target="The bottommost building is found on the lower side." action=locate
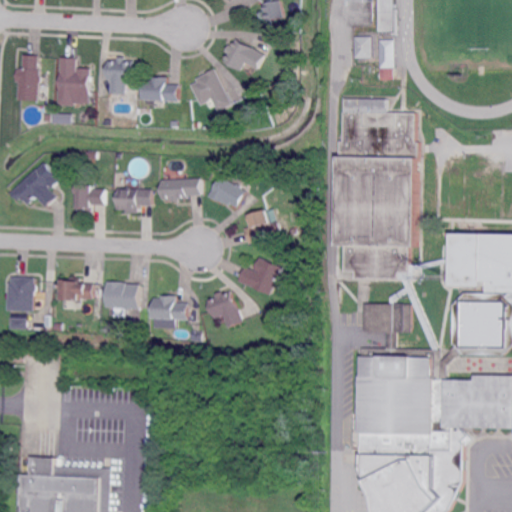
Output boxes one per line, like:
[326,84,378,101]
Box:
[18,457,106,512]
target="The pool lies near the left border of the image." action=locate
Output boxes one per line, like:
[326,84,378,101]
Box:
[23,106,42,125]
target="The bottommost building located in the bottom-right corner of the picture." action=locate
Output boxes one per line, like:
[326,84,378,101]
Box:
[358,356,512,512]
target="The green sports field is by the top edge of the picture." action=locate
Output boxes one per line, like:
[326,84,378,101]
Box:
[437,0,512,49]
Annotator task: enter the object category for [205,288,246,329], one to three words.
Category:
house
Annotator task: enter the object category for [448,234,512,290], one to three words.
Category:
building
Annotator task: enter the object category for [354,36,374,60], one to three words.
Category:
building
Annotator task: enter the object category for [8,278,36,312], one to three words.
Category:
house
